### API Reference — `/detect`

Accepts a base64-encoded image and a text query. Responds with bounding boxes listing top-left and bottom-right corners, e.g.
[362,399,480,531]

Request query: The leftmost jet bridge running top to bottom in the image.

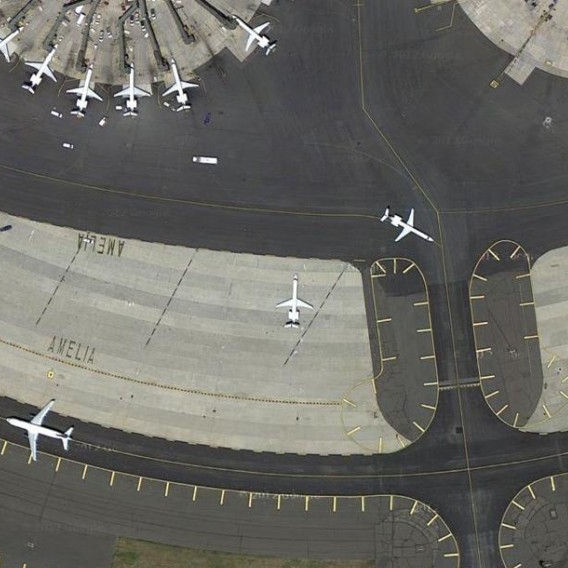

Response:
[77,0,100,70]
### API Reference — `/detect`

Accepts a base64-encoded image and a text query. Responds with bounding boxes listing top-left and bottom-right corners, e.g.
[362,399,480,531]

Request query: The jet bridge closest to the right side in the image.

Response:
[197,0,237,28]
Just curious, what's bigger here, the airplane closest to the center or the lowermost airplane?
the lowermost airplane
